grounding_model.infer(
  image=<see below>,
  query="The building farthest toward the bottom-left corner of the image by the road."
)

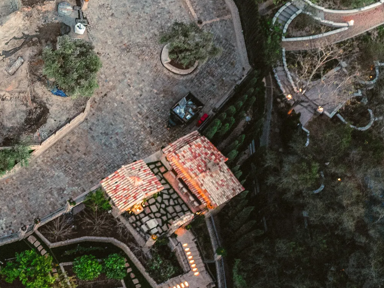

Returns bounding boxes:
[93,152,168,220]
